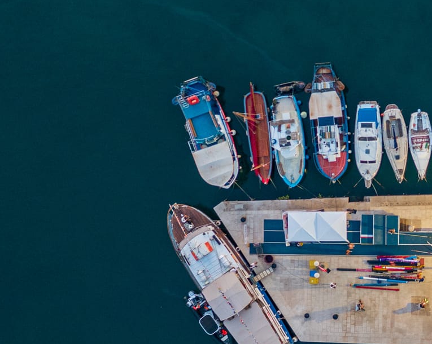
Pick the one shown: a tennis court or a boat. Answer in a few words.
boat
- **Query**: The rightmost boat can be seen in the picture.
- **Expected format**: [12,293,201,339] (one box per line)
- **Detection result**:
[408,106,432,193]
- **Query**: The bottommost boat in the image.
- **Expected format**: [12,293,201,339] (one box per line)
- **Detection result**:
[185,290,231,344]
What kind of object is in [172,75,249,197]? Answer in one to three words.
boat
